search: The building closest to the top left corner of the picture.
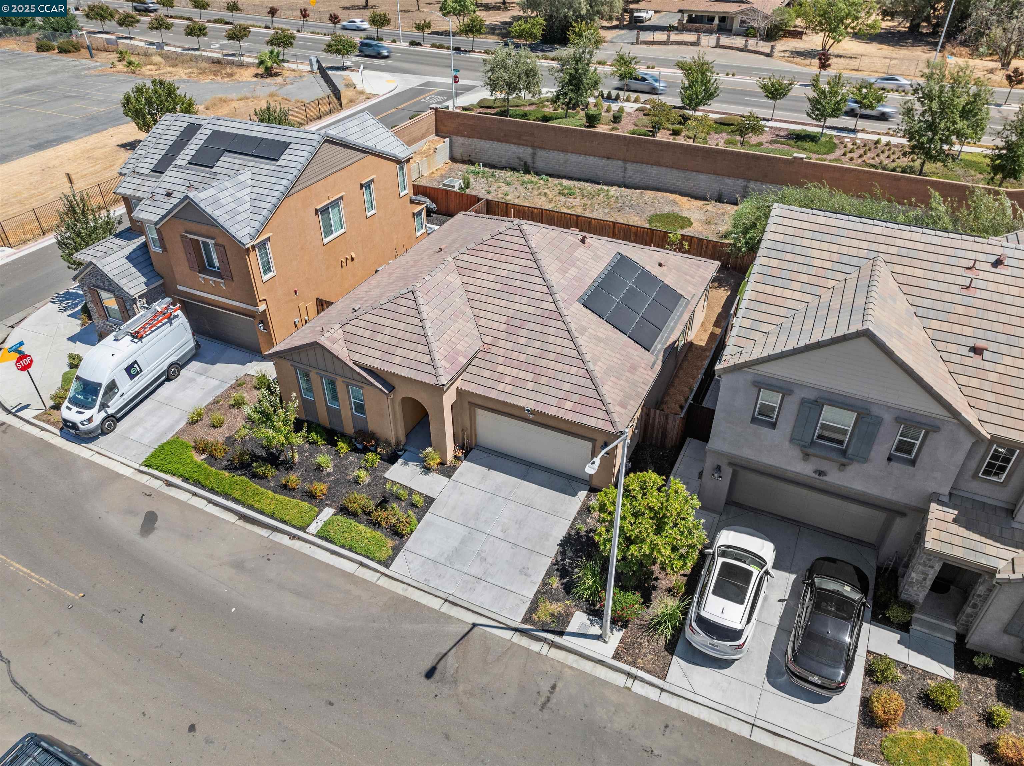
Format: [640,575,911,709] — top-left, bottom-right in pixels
[66,110,431,356]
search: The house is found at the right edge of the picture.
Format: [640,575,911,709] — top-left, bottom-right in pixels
[699,203,1024,668]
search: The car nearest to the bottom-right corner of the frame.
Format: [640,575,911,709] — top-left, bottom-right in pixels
[785,549,878,698]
